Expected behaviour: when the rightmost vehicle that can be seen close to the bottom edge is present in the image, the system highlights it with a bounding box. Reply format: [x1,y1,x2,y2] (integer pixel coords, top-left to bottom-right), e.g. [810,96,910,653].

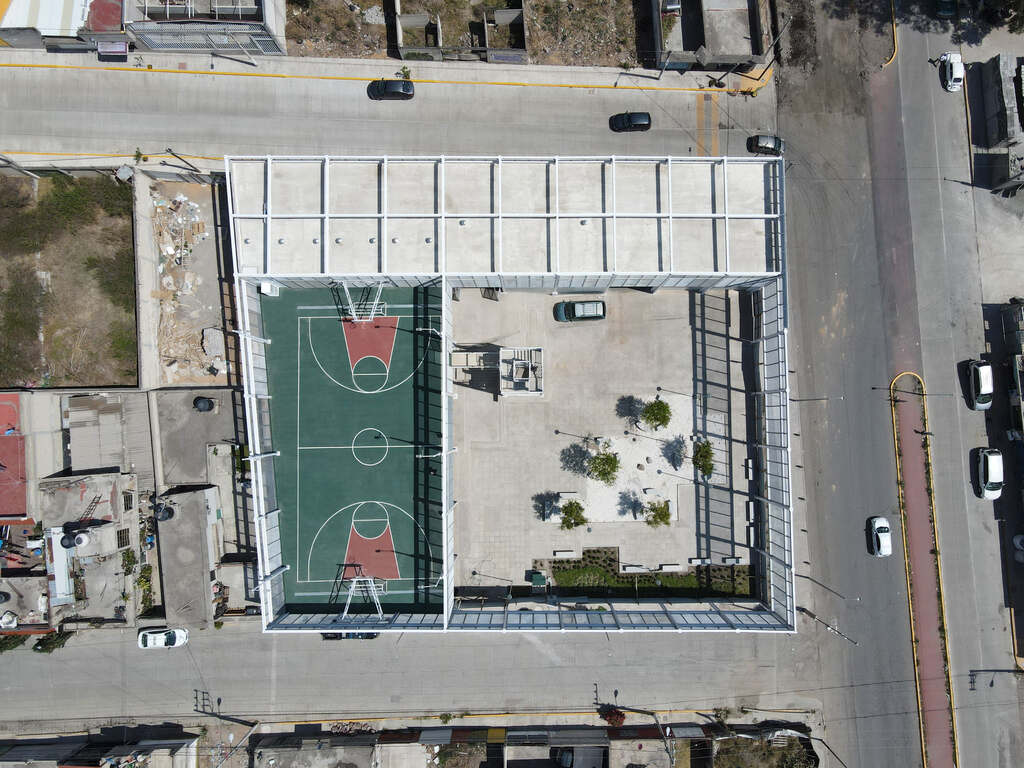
[555,745,578,768]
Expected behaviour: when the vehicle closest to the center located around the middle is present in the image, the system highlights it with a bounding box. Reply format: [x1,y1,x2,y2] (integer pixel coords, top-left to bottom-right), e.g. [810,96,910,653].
[555,300,606,323]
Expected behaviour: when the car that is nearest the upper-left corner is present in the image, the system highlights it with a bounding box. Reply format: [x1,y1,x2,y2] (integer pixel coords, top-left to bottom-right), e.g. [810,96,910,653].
[369,78,415,102]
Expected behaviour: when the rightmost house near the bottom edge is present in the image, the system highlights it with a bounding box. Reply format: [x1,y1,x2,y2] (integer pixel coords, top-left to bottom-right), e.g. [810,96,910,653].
[605,721,667,768]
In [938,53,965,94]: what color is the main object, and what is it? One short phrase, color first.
white truck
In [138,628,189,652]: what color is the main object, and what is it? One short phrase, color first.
white car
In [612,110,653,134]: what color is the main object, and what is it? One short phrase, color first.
black car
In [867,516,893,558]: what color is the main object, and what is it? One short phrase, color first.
white car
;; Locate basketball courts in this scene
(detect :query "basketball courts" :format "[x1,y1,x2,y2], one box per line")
[258,288,456,612]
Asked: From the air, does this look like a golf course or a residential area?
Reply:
residential area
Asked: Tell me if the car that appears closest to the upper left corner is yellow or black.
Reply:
black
